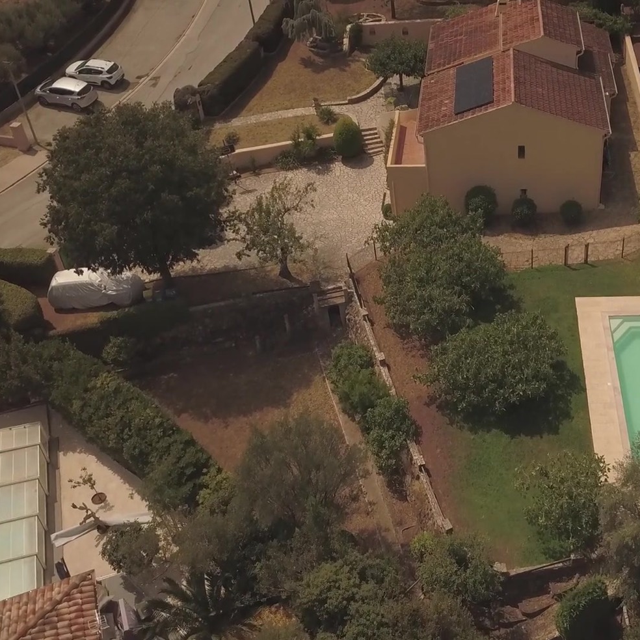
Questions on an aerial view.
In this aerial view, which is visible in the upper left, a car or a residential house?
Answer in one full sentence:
Looking in the upper left, you will find a car.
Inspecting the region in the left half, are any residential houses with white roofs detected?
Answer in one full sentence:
No, I can find no residential house with a white roof in the left half.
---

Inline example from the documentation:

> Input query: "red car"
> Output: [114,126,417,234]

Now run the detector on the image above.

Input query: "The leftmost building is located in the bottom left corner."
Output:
[0,567,107,640]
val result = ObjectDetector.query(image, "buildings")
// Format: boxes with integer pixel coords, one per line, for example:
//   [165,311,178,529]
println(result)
[0,567,107,640]
[387,0,620,215]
